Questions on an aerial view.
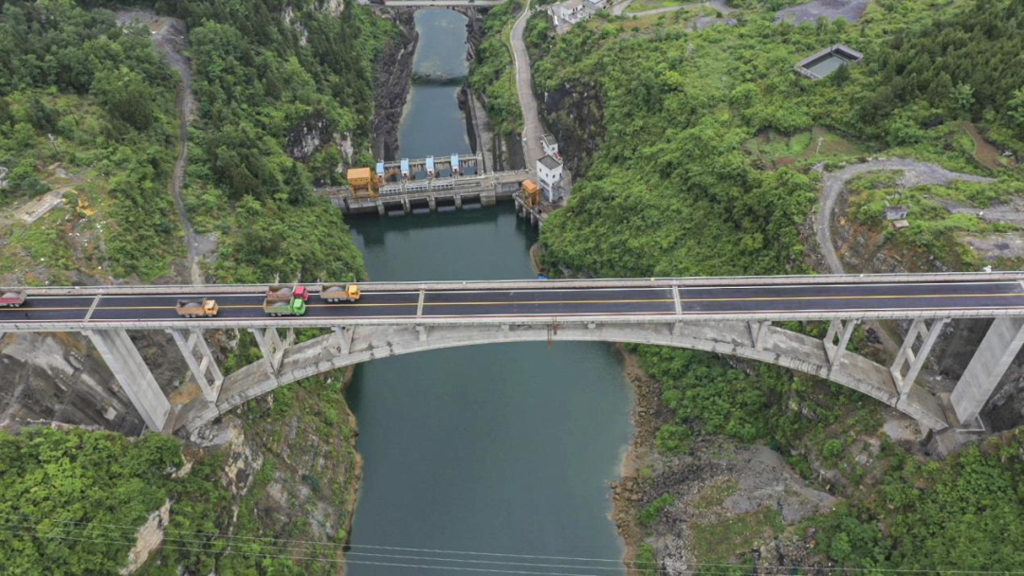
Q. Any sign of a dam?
Yes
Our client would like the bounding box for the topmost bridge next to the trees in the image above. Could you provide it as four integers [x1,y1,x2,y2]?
[389,1,508,28]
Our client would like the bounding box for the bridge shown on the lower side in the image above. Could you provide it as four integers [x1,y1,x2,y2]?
[0,276,1024,457]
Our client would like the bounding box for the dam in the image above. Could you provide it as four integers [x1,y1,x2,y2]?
[330,150,556,235]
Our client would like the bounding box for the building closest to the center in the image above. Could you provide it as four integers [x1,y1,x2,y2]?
[536,155,567,202]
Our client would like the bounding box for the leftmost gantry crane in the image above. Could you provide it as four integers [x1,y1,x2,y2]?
[346,169,403,200]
